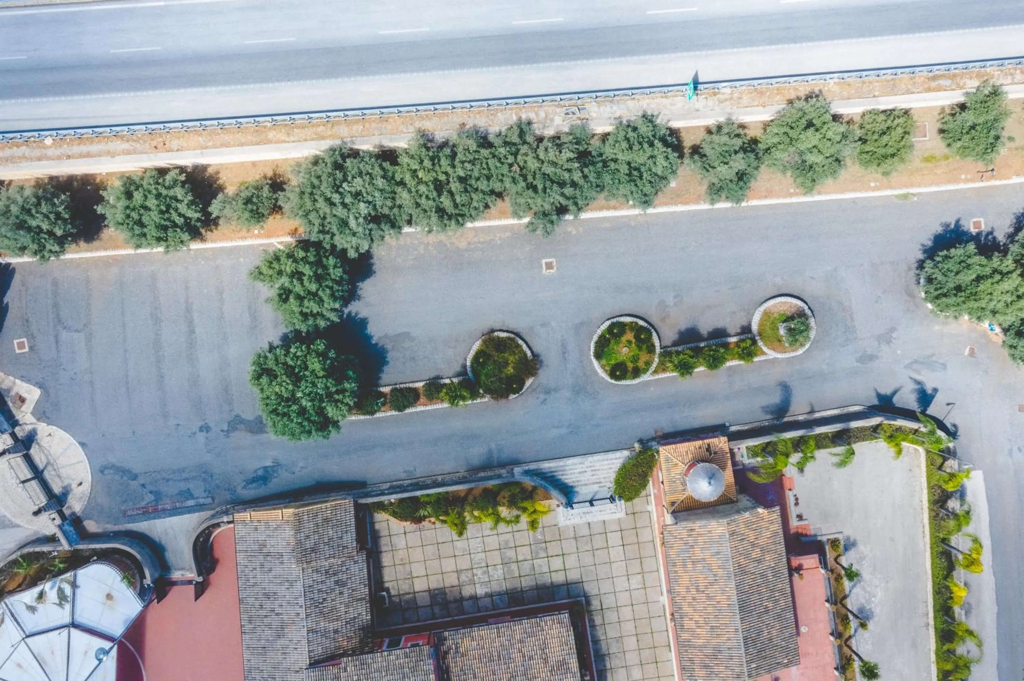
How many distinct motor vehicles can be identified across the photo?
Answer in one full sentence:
No motor vehicles are visible.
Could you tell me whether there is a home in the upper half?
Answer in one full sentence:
No, looking in the upper half, there is no home.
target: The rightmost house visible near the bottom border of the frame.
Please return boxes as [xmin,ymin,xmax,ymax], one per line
[660,487,804,681]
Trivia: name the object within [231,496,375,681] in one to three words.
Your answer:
house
